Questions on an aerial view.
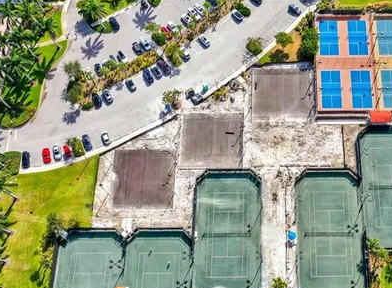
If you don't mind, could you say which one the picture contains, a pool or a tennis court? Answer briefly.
tennis court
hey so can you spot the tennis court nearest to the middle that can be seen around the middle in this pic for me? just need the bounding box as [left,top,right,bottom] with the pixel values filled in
[180,111,244,167]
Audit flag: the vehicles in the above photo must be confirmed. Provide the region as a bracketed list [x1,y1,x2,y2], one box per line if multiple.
[91,92,101,107]
[81,133,91,149]
[156,56,170,73]
[199,34,211,47]
[93,62,101,76]
[101,129,110,145]
[251,0,263,5]
[124,77,137,91]
[102,88,113,103]
[166,19,178,31]
[142,66,153,81]
[100,53,110,63]
[139,36,151,49]
[159,25,172,37]
[182,85,197,98]
[21,150,30,166]
[180,11,193,24]
[108,15,120,29]
[52,143,62,159]
[131,40,143,54]
[84,62,94,76]
[187,5,200,18]
[288,1,302,13]
[189,92,208,105]
[193,0,206,13]
[231,8,244,20]
[62,142,72,157]
[150,63,162,77]
[141,0,150,9]
[42,148,51,162]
